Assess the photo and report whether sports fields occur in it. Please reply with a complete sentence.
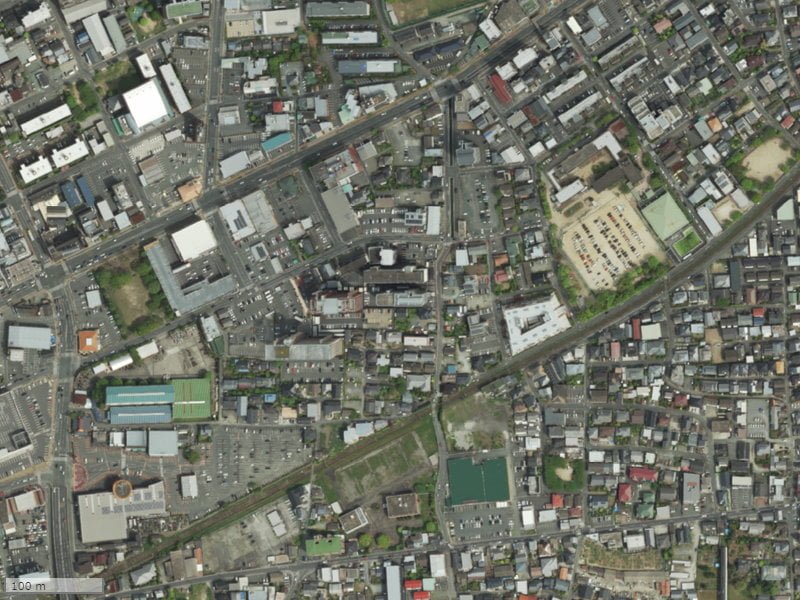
Yes, there's a sports field down there.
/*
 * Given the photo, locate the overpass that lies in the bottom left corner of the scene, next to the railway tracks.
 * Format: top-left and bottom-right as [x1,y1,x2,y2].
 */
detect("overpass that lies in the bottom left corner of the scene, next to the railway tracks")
[51,500,75,600]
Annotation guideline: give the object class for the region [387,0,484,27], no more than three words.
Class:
sports field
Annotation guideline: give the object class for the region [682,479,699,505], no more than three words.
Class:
building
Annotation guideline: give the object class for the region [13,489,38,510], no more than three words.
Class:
building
